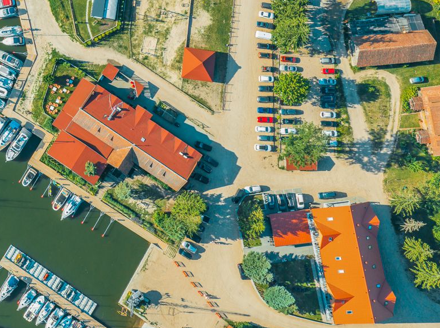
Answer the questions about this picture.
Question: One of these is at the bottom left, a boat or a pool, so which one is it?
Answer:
boat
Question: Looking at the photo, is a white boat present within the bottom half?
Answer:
Yes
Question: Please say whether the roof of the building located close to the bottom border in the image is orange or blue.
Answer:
orange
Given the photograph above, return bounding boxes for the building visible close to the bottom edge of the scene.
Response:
[294,201,401,324]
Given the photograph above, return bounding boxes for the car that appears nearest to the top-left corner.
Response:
[193,140,211,152]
